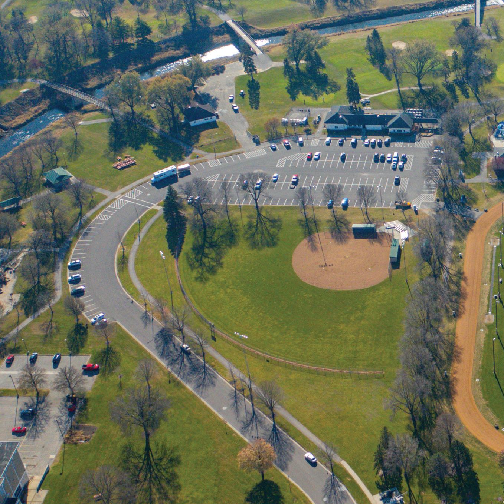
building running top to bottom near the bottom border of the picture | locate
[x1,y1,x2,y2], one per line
[0,442,29,504]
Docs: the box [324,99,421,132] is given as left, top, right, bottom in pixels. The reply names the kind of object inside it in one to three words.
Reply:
building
